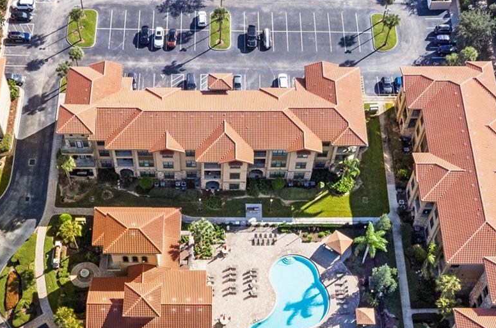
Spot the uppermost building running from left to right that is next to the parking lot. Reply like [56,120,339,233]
[56,59,368,190]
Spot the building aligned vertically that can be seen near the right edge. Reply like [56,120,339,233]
[394,60,496,309]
